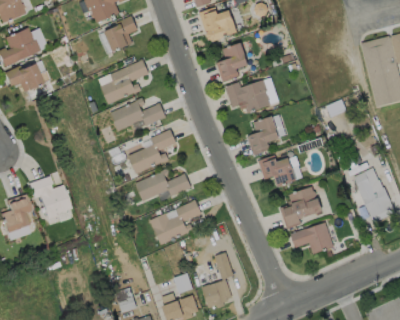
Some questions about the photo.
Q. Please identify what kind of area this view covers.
residential area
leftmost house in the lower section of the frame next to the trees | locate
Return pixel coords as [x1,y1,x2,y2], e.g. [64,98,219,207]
[2,195,34,240]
